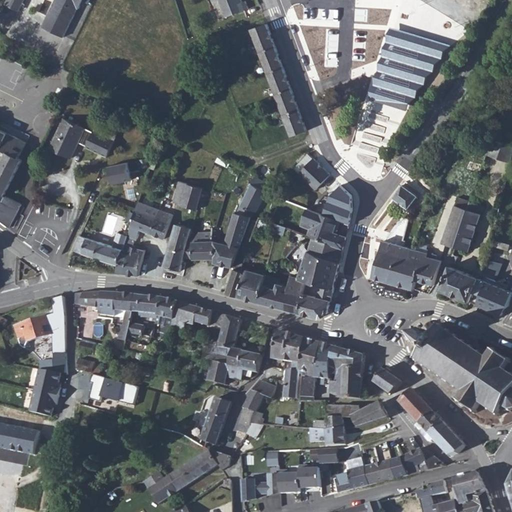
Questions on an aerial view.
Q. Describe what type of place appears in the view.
residential area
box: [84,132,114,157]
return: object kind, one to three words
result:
shed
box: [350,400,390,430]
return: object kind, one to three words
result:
building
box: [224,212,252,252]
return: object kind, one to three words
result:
house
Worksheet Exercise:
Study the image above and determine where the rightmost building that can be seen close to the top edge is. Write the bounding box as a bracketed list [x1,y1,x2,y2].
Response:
[368,22,452,110]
